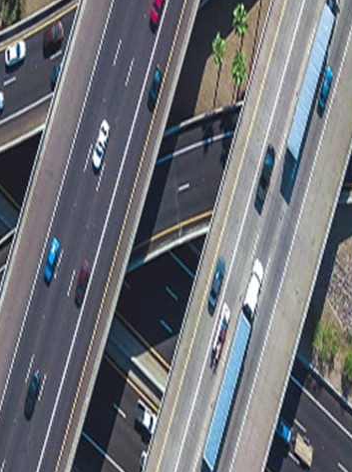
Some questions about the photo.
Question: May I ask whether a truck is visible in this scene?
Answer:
Yes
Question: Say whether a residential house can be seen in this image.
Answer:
No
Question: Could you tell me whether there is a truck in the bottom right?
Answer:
Yes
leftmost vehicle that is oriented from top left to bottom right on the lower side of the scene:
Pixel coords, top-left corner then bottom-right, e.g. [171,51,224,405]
[132,395,155,431]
